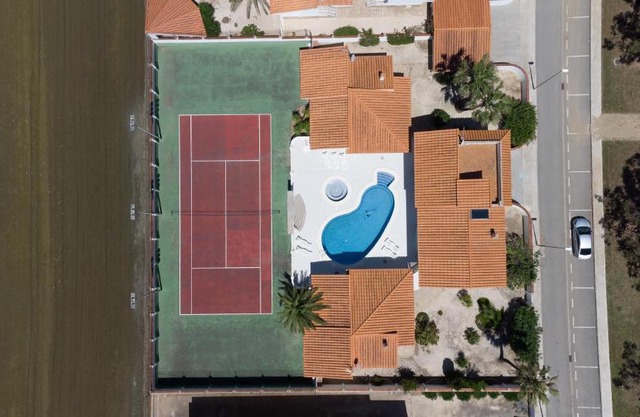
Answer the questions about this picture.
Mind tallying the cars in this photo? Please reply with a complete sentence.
Altogether the scene contains 1 car.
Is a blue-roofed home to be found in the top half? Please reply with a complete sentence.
No, no blue-roofed home appears in the top half.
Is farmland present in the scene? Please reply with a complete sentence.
Yes, farmland shows up in the scene.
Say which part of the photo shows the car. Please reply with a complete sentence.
The car is in the right part of the image.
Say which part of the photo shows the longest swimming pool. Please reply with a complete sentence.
The longest swimming pool sits in the center section of the image.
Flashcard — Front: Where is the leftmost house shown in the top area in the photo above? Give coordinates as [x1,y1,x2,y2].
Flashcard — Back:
[147,0,208,42]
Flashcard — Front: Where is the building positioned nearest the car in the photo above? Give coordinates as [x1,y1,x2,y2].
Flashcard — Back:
[409,129,512,288]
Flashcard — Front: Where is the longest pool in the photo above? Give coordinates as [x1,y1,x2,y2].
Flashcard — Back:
[318,168,399,268]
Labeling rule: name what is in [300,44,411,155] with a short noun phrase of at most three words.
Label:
house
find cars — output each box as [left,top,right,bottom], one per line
[571,218,594,258]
